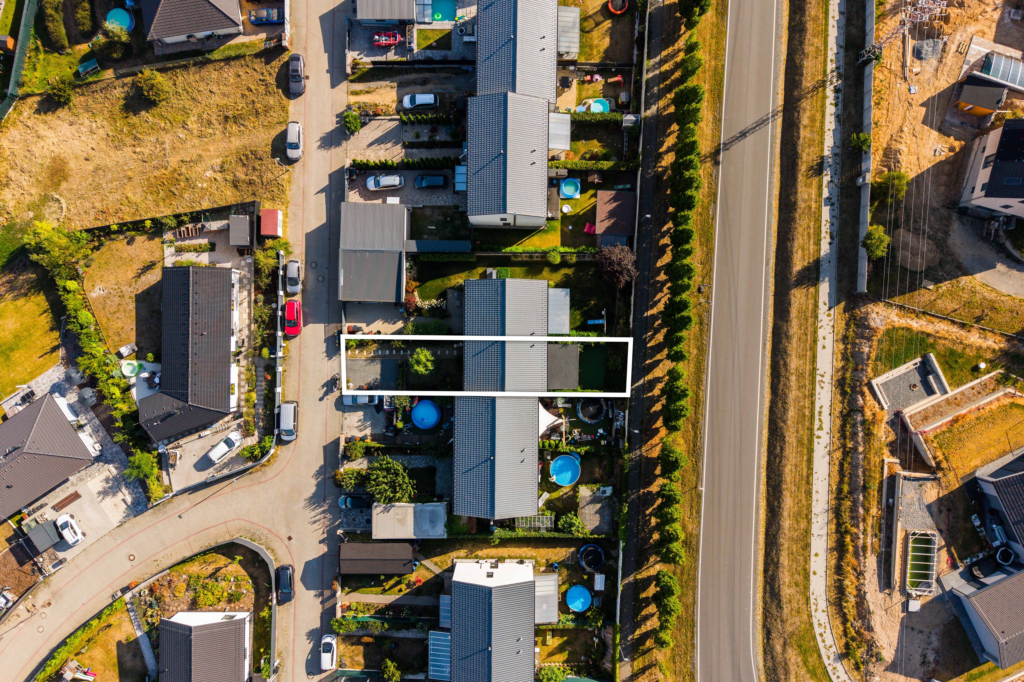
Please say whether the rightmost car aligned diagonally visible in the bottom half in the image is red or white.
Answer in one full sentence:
From above, the rightmost car aligned diagonally visible in the bottom half appears white.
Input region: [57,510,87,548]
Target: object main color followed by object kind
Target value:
white car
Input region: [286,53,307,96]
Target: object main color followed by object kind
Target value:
gray car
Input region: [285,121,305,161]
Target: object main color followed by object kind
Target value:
white car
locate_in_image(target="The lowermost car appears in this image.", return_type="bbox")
[320,632,338,670]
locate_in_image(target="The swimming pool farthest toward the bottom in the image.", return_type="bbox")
[565,583,592,611]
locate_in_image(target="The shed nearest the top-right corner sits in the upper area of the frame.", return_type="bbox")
[949,75,1005,115]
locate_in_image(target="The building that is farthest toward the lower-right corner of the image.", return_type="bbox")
[950,554,1024,670]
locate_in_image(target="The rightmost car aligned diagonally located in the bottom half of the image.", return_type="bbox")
[208,430,245,464]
